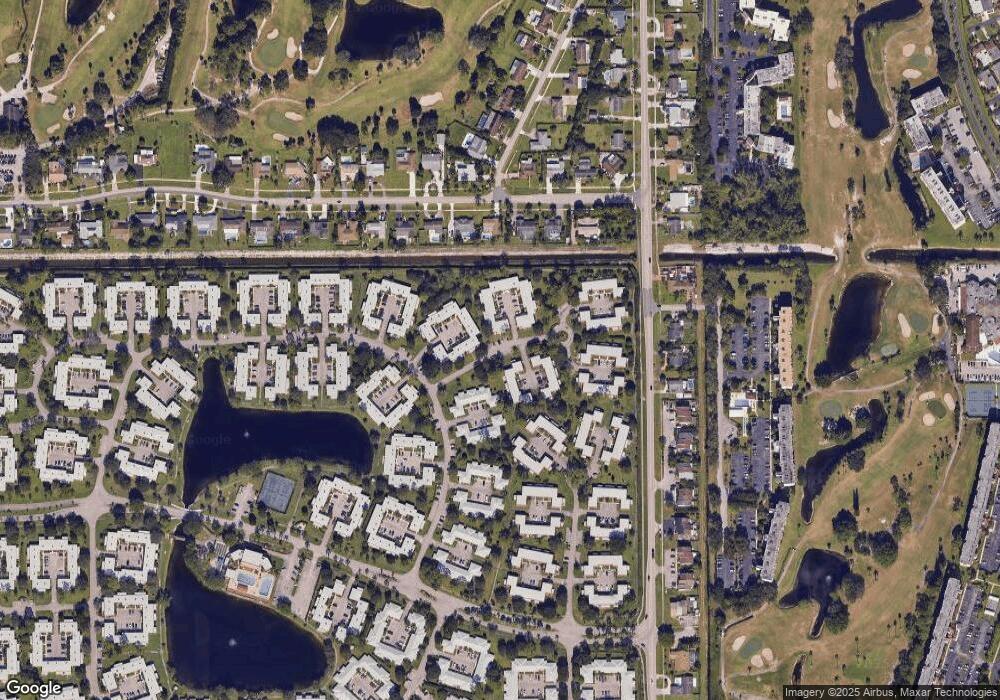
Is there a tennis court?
Yes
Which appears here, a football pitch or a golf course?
golf course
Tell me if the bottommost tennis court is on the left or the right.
left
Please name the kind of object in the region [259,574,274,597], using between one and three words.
swimming pool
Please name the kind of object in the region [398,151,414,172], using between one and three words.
house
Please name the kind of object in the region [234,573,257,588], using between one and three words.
swimming pool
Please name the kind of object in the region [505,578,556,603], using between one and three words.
building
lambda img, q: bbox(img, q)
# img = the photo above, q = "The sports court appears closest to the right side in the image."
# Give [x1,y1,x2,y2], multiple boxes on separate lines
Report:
[967,386,995,416]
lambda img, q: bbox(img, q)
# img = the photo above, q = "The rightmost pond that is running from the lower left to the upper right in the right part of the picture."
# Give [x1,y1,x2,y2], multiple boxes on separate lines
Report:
[802,398,887,522]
